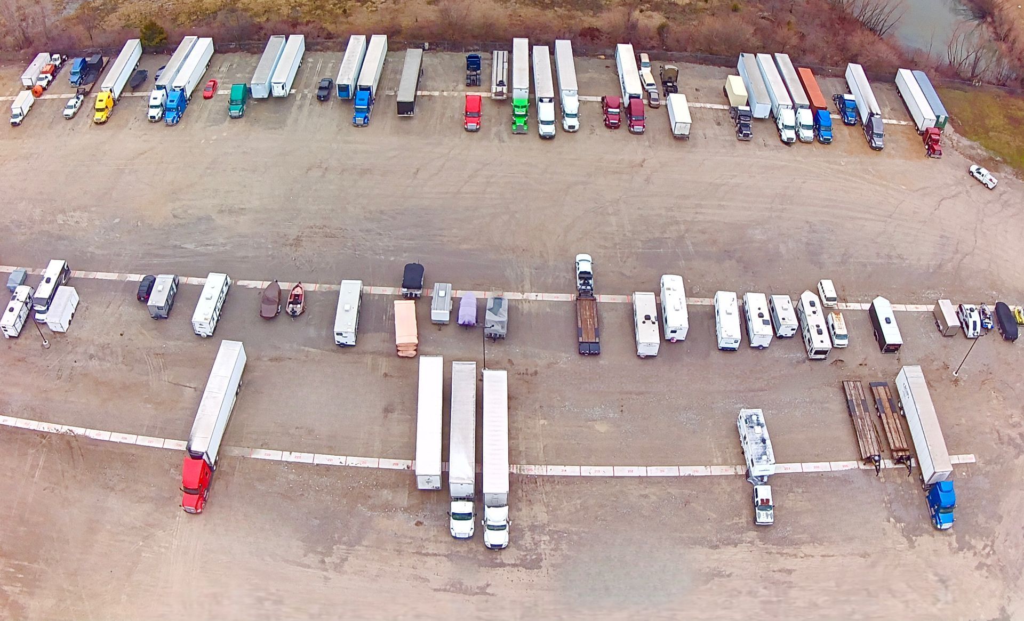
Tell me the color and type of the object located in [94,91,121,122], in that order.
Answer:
yellow truck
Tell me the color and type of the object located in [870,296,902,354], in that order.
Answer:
white trailer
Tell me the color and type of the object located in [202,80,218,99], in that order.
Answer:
red car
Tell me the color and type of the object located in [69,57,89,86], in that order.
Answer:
blue vehicle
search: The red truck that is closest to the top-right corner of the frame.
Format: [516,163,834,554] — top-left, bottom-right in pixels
[916,128,943,157]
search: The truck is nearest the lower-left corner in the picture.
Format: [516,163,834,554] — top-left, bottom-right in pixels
[179,451,218,513]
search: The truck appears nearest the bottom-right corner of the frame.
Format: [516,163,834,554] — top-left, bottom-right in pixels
[921,470,959,530]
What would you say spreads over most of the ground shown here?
paved ground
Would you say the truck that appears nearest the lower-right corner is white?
No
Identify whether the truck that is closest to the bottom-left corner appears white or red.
red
